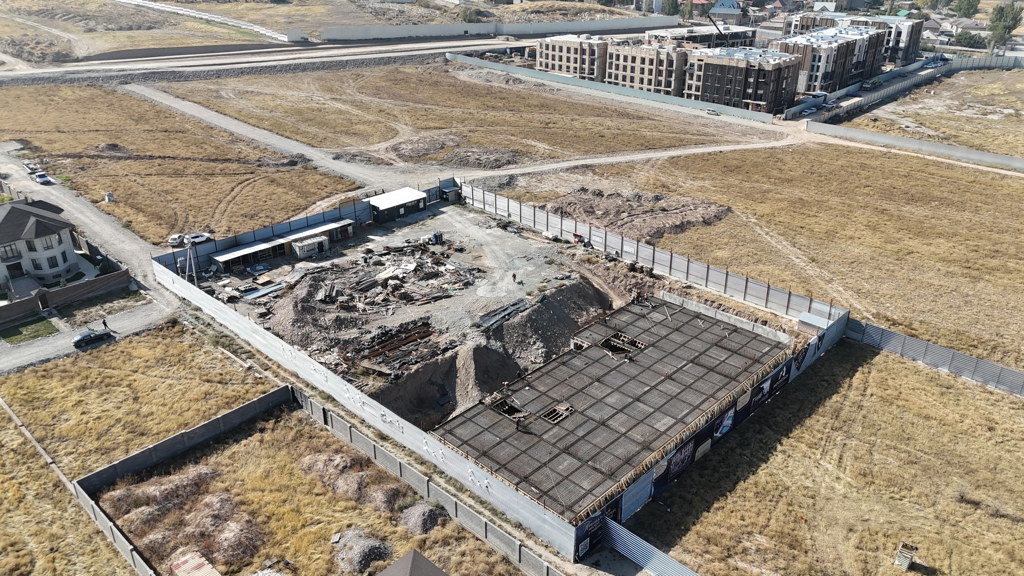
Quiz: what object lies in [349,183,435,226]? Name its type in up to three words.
building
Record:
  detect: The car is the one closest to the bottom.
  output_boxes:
[75,328,113,346]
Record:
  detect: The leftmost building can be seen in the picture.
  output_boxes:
[0,201,78,282]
